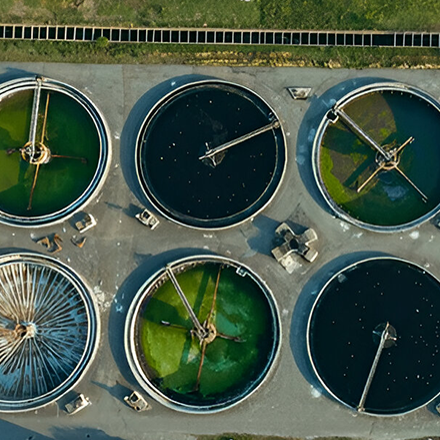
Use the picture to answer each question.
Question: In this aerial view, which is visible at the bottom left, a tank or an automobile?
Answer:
tank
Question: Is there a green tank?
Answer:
Yes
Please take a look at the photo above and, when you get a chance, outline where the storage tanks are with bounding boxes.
[306,257,440,415]
[0,252,102,410]
[312,82,440,233]
[0,75,112,228]
[135,80,286,230]
[124,254,283,413]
